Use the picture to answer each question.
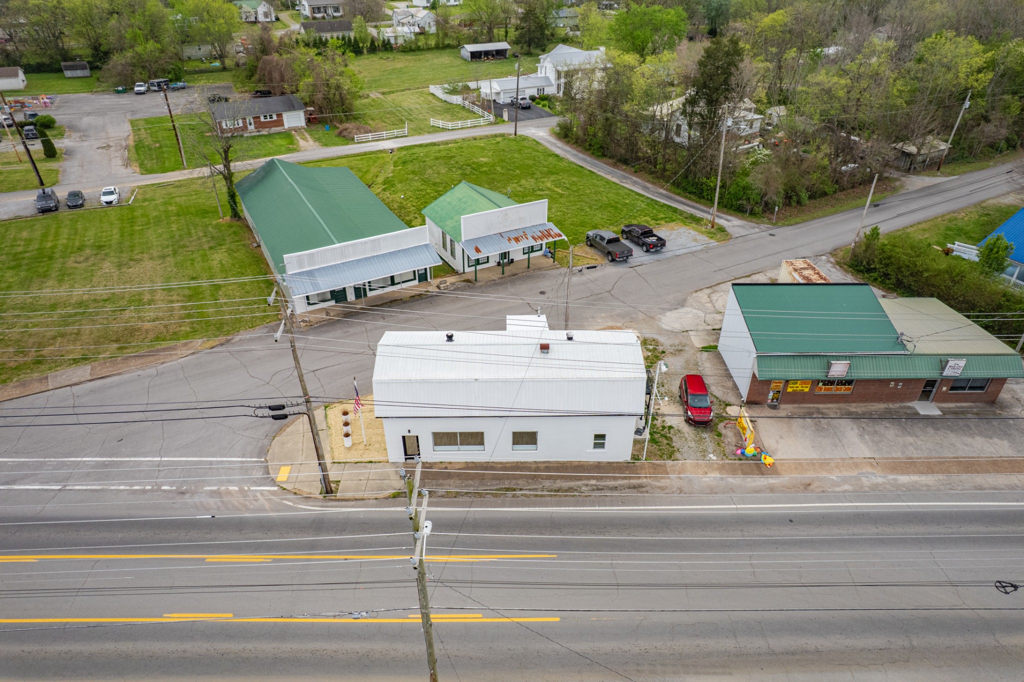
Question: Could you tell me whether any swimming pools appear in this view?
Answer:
No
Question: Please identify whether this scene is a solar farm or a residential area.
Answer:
residential area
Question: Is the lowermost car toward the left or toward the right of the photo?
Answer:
right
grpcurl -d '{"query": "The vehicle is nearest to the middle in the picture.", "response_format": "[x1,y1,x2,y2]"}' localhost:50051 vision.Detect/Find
[582,225,639,262]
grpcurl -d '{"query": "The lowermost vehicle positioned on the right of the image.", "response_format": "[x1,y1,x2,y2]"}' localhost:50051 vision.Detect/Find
[678,370,718,429]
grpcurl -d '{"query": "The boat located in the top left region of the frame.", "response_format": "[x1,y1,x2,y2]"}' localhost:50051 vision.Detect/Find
[170,78,193,90]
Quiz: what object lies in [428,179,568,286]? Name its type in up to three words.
building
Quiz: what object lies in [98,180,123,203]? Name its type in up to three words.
car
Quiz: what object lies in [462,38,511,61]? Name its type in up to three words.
shed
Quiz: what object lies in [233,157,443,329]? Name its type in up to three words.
building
